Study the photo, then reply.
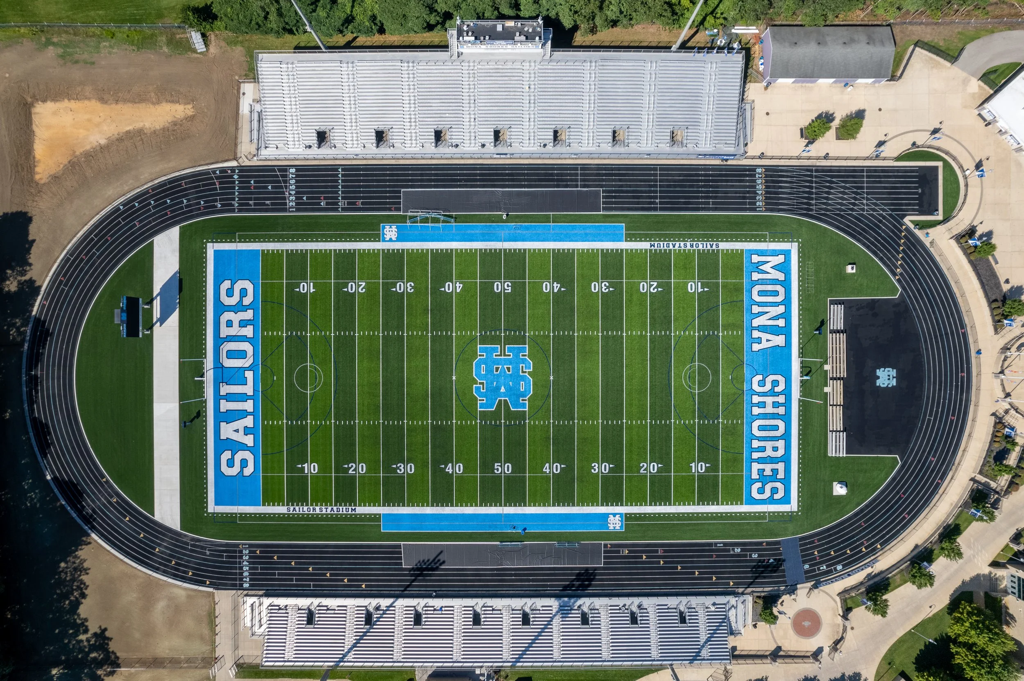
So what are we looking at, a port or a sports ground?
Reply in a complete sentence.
The picture captures a sports ground.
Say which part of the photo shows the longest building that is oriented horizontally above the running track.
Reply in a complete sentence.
The longest building that is oriented horizontally above the running track is in the top right part of the image.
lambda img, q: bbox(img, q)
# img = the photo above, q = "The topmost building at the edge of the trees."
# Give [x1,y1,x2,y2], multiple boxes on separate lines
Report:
[762,25,897,83]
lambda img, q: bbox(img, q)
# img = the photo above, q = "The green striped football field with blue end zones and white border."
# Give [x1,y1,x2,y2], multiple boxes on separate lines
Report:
[75,214,926,542]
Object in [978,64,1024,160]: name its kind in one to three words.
building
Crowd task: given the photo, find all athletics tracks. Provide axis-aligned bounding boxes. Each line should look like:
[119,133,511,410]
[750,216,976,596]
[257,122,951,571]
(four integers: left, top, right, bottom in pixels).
[27,165,973,590]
